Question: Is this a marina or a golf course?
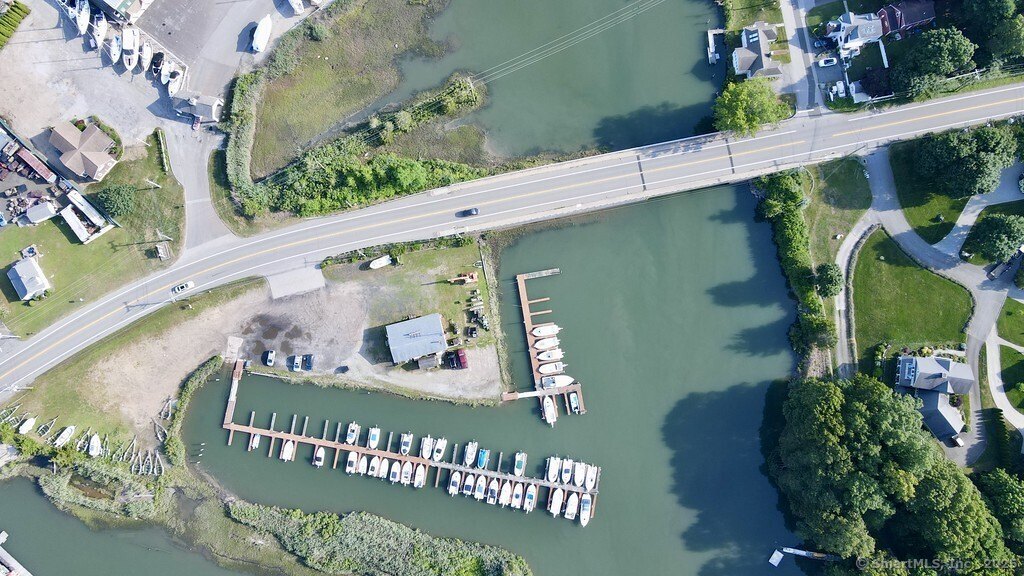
marina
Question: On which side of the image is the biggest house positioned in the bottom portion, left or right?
right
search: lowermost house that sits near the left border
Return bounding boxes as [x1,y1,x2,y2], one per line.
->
[10,256,56,300]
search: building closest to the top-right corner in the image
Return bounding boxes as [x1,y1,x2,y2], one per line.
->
[874,0,936,42]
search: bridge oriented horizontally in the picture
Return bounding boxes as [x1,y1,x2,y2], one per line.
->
[426,119,804,238]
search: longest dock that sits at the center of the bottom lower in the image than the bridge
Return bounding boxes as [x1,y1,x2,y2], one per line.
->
[220,357,602,520]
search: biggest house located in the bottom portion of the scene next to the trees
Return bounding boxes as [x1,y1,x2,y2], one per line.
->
[892,352,974,441]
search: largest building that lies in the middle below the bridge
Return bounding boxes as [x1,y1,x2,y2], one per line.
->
[384,311,450,362]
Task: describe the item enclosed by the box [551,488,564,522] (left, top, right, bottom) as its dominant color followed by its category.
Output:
white boat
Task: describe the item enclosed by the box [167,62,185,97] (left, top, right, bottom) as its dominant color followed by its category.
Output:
white boat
